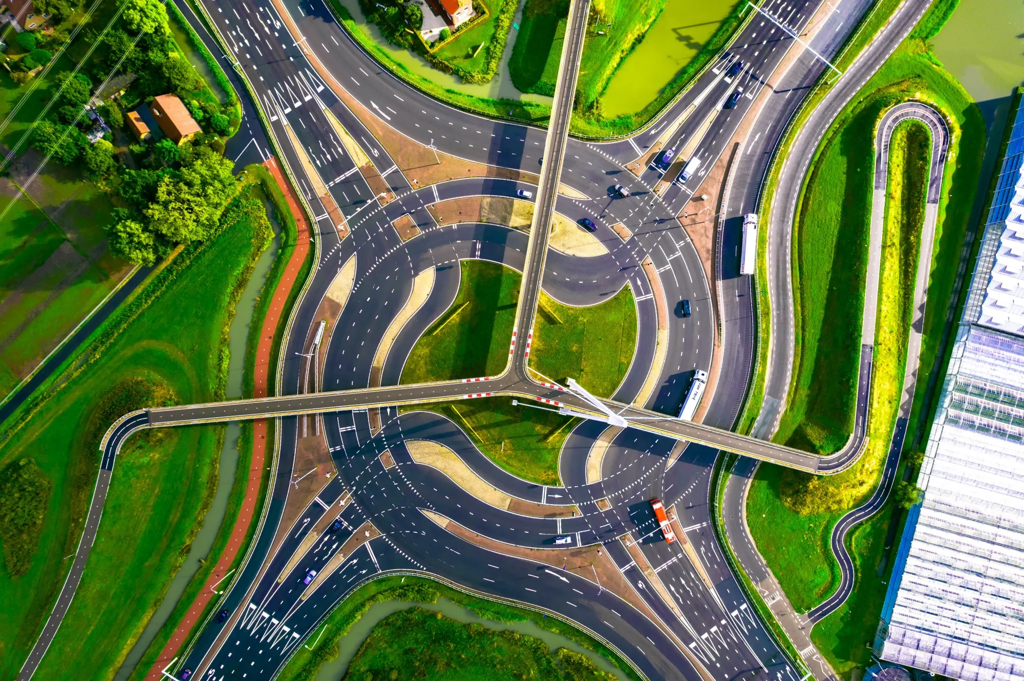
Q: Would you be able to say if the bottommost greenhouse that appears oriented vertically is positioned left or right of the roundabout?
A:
on the right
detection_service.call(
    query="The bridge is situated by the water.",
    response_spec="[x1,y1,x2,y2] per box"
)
[147,0,822,474]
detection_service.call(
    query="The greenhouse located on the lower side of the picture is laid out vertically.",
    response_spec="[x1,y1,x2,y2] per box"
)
[878,323,1024,657]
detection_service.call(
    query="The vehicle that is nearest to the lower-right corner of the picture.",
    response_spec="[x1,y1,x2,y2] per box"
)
[651,497,676,544]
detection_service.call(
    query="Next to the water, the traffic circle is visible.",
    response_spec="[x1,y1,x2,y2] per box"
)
[190,0,861,681]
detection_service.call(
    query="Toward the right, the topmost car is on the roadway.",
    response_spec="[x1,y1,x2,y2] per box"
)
[728,59,743,77]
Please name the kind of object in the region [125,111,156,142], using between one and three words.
building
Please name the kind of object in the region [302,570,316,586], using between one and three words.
car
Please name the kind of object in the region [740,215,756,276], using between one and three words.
vehicle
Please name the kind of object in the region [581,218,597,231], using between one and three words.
vehicle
